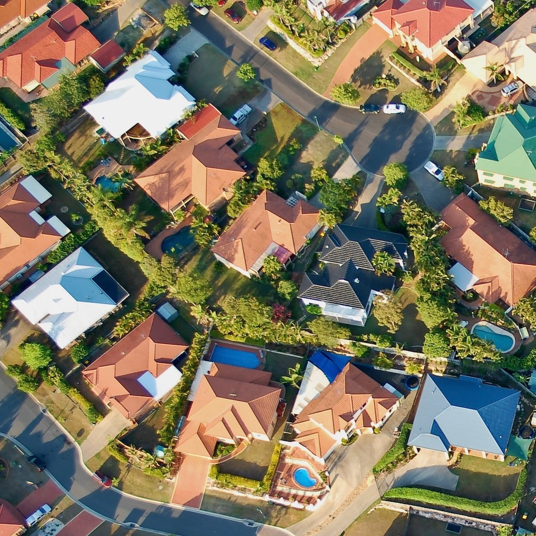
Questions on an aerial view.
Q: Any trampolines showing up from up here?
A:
Yes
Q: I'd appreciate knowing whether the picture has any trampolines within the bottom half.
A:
Yes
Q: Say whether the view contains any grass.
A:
Yes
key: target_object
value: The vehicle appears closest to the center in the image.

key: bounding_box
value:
[229,103,251,123]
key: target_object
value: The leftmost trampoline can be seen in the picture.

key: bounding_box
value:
[403,375,421,392]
